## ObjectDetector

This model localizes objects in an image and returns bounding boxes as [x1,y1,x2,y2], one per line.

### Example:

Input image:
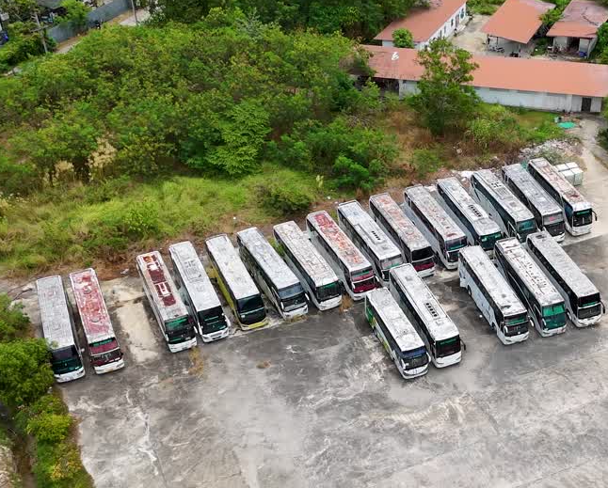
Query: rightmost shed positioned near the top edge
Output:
[547,0,608,51]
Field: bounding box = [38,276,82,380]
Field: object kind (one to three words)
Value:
bus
